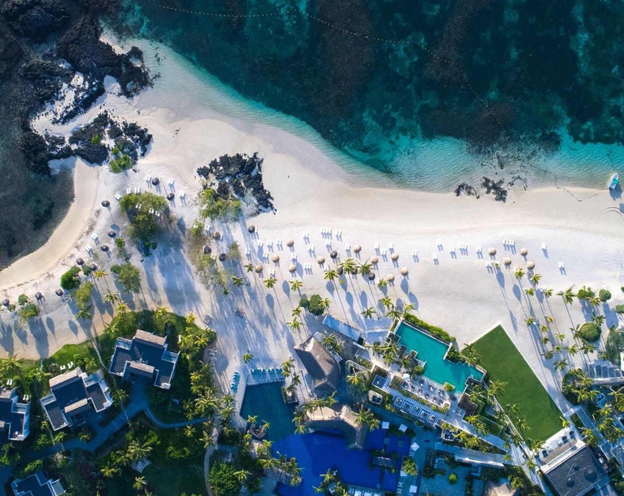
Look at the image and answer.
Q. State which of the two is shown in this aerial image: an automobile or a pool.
pool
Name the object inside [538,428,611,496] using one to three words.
building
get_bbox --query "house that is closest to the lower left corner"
[15,468,66,496]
